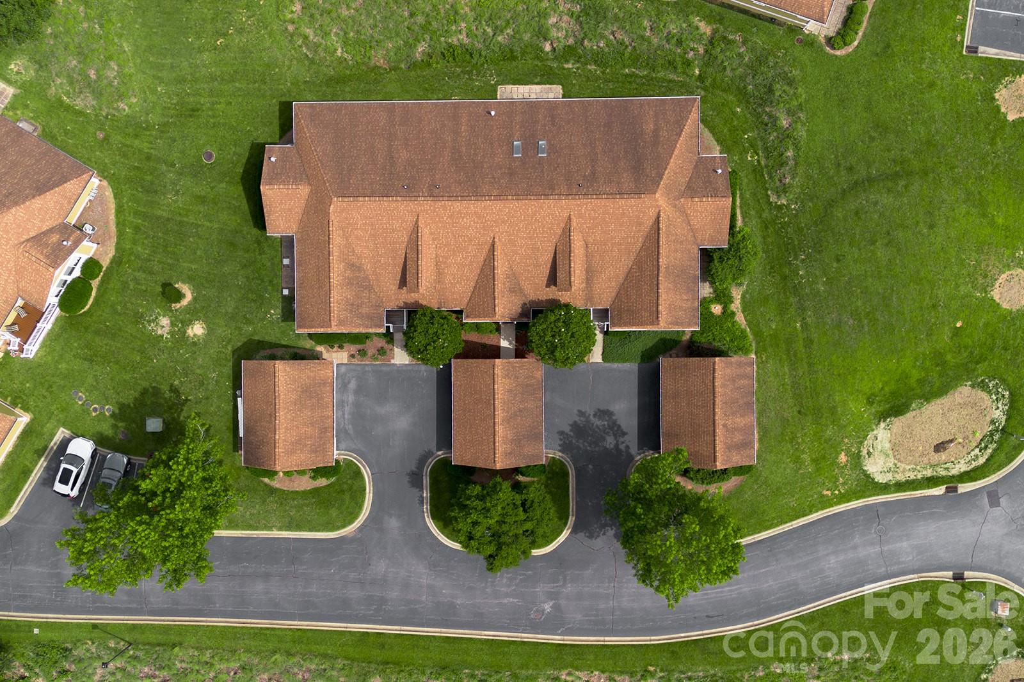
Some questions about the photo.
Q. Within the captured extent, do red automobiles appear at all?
No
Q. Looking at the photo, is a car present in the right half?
No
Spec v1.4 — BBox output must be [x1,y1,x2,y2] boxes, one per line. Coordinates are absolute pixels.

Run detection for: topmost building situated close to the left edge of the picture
[0,114,104,341]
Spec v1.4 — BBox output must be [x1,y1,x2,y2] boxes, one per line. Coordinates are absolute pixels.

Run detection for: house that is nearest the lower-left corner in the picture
[0,400,28,461]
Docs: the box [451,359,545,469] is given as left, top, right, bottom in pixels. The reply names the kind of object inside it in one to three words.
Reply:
building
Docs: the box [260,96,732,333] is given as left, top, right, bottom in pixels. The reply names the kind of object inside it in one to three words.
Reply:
house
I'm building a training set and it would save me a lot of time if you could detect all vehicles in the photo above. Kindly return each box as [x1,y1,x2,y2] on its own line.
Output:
[54,435,98,501]
[89,447,134,509]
